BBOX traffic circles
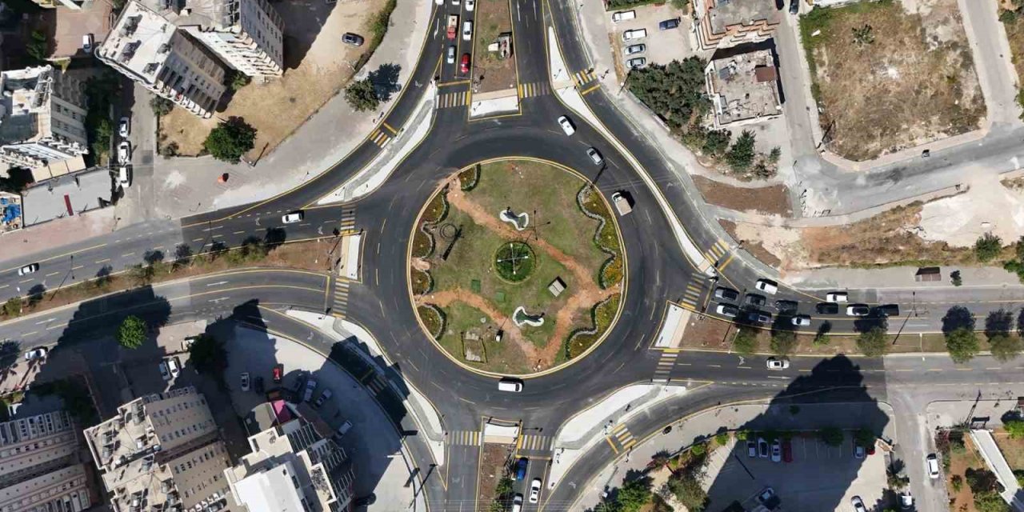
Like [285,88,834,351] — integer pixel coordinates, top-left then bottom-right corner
[352,107,681,427]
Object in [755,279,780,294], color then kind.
white vehicle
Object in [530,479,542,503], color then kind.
white vehicle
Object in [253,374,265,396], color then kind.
black vehicle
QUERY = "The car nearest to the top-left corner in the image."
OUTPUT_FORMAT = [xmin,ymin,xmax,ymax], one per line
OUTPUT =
[81,33,93,53]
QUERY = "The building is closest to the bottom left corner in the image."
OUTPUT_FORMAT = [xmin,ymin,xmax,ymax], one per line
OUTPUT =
[0,411,97,512]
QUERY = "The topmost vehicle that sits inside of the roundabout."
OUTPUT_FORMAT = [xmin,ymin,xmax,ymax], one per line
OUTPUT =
[557,116,576,136]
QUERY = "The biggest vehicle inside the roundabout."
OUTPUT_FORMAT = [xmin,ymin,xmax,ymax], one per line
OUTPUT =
[611,190,633,220]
